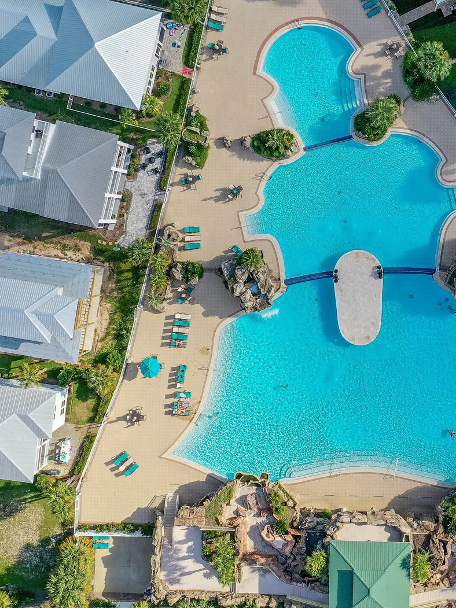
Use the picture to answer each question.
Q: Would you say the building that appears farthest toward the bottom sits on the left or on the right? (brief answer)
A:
right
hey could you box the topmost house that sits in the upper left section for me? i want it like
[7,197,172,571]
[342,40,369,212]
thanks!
[0,0,165,111]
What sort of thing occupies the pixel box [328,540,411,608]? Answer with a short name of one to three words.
building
